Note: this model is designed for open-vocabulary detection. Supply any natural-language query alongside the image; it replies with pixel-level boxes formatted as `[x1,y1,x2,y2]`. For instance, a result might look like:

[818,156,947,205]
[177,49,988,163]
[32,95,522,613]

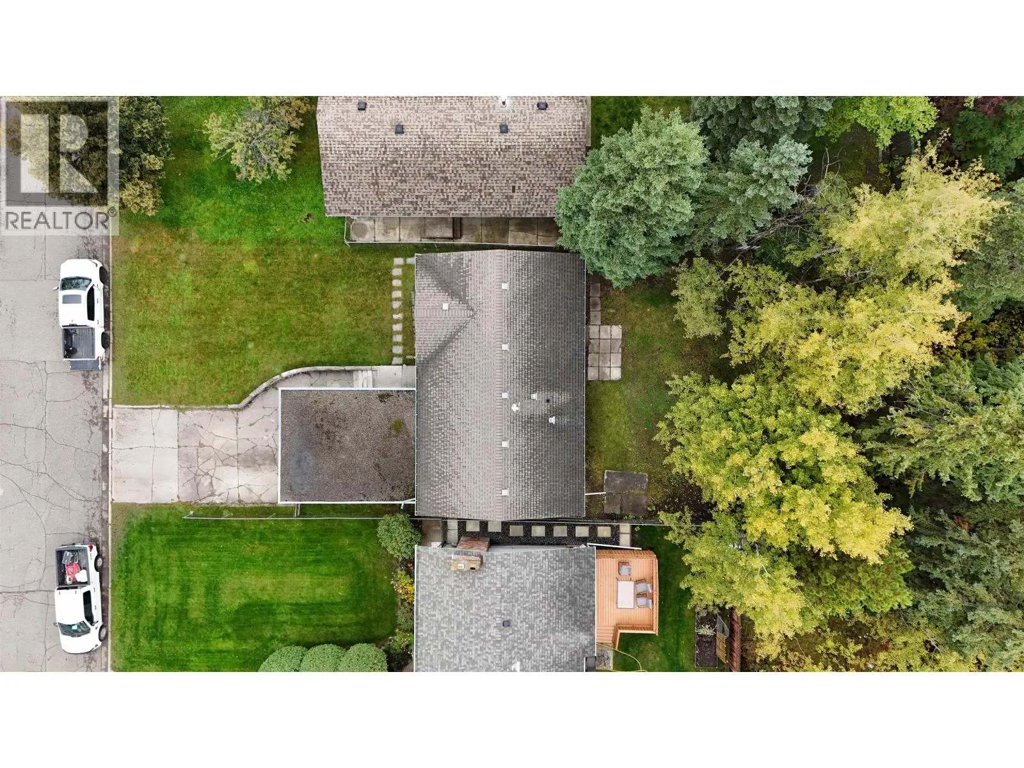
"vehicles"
[55,260,107,369]
[56,541,109,653]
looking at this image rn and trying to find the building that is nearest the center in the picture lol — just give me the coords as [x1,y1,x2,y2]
[403,249,604,521]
